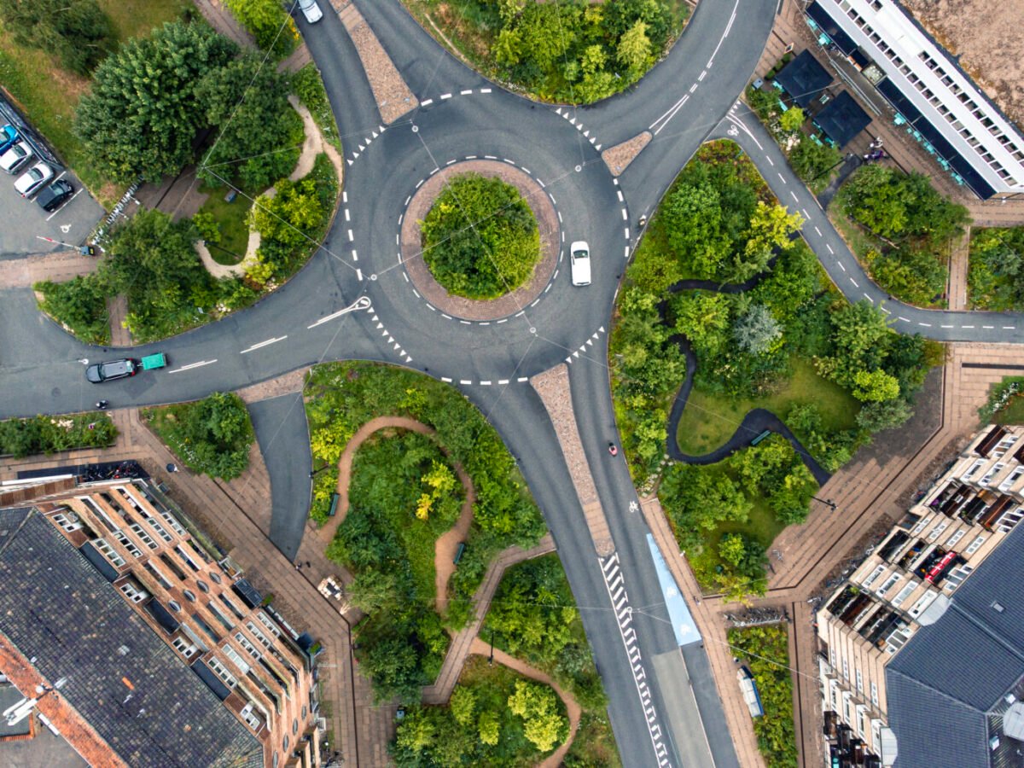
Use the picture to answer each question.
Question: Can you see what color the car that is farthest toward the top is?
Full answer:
The color of the car that is farthest toward the top is white.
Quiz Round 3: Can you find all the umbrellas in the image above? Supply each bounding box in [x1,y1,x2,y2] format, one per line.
[811,88,873,151]
[772,48,835,110]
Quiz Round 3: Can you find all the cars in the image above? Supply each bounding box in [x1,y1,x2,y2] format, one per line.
[294,0,322,25]
[10,163,55,201]
[87,358,137,382]
[0,122,23,155]
[0,140,35,178]
[33,178,75,214]
[570,242,592,286]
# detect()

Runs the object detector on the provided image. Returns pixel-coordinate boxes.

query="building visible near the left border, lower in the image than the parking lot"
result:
[0,465,346,768]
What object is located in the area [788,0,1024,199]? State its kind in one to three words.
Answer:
building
